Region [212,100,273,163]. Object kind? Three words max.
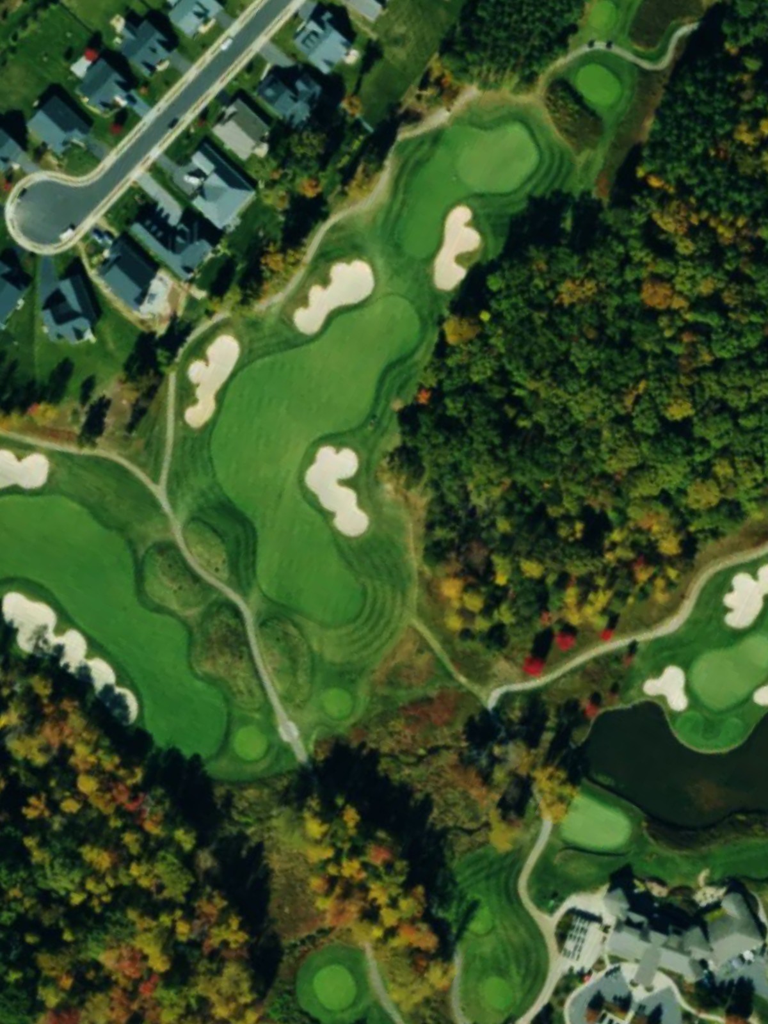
house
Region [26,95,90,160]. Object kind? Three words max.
house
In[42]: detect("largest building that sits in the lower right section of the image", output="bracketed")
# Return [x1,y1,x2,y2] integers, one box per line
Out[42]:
[599,887,767,995]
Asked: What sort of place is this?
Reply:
golf course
